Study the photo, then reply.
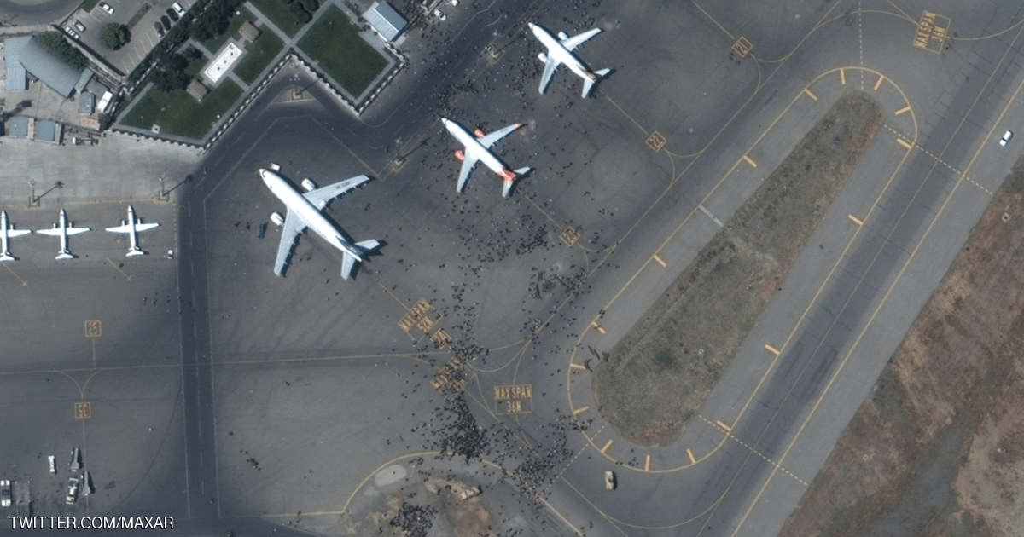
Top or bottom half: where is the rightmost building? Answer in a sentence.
Seen from above, the rightmost building lies in the top half of the view.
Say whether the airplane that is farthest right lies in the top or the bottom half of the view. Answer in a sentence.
Seen from above, the airplane that is farthest right lies in the top half of the view.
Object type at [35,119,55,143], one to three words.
shed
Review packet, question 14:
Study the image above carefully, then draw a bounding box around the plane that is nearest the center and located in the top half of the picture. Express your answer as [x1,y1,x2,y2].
[442,118,531,196]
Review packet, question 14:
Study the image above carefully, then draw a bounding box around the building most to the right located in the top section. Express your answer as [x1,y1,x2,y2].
[366,1,408,45]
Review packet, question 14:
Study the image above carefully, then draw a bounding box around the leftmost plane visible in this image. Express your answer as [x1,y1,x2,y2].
[0,209,30,257]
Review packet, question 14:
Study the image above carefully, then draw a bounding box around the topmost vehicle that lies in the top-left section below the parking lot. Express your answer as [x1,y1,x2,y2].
[96,90,114,113]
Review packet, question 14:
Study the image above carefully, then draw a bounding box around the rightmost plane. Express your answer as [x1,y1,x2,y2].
[529,22,611,97]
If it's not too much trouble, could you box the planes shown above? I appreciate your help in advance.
[36,207,89,256]
[529,22,611,97]
[442,118,531,196]
[260,169,381,278]
[105,205,158,254]
[0,209,30,257]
